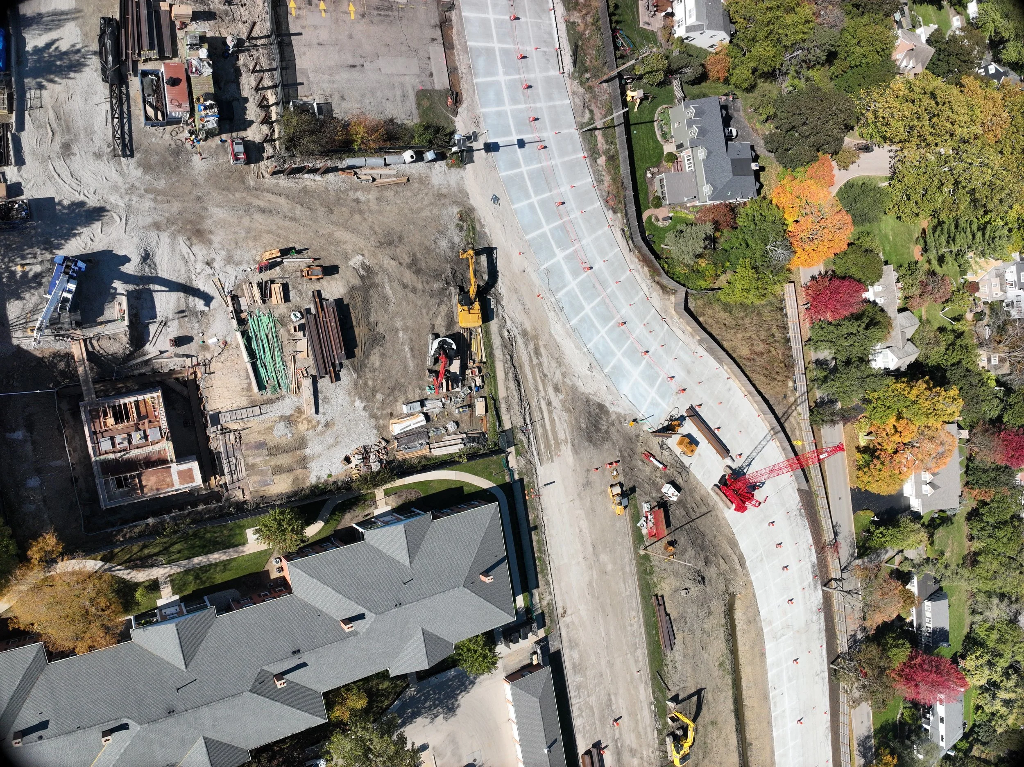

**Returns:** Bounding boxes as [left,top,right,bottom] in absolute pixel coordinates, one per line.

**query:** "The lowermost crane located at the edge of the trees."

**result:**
[716,443,846,520]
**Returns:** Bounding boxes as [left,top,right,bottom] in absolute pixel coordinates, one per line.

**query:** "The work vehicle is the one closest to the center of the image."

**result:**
[429,335,459,395]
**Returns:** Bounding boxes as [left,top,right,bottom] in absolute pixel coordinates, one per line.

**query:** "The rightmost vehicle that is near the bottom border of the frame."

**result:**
[668,711,697,766]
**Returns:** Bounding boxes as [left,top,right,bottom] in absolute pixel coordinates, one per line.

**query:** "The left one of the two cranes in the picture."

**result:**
[16,252,108,350]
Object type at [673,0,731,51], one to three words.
house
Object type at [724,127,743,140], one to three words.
vehicle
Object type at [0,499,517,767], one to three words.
building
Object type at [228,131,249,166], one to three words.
work vehicle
